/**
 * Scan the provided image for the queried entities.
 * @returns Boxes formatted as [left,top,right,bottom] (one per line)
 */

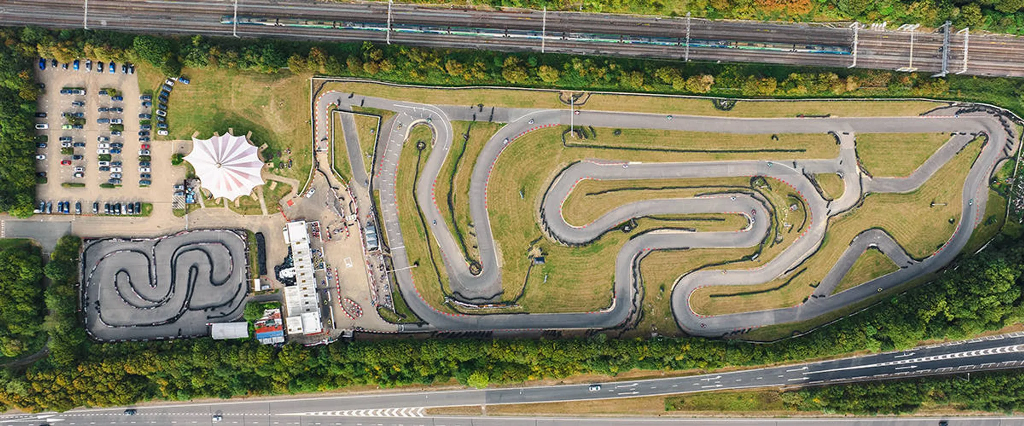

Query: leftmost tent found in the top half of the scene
[183,132,264,201]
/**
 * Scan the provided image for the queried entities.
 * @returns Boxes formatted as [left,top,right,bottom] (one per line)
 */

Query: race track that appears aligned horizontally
[380,102,1006,335]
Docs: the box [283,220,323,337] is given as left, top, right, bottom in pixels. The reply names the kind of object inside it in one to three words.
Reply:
building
